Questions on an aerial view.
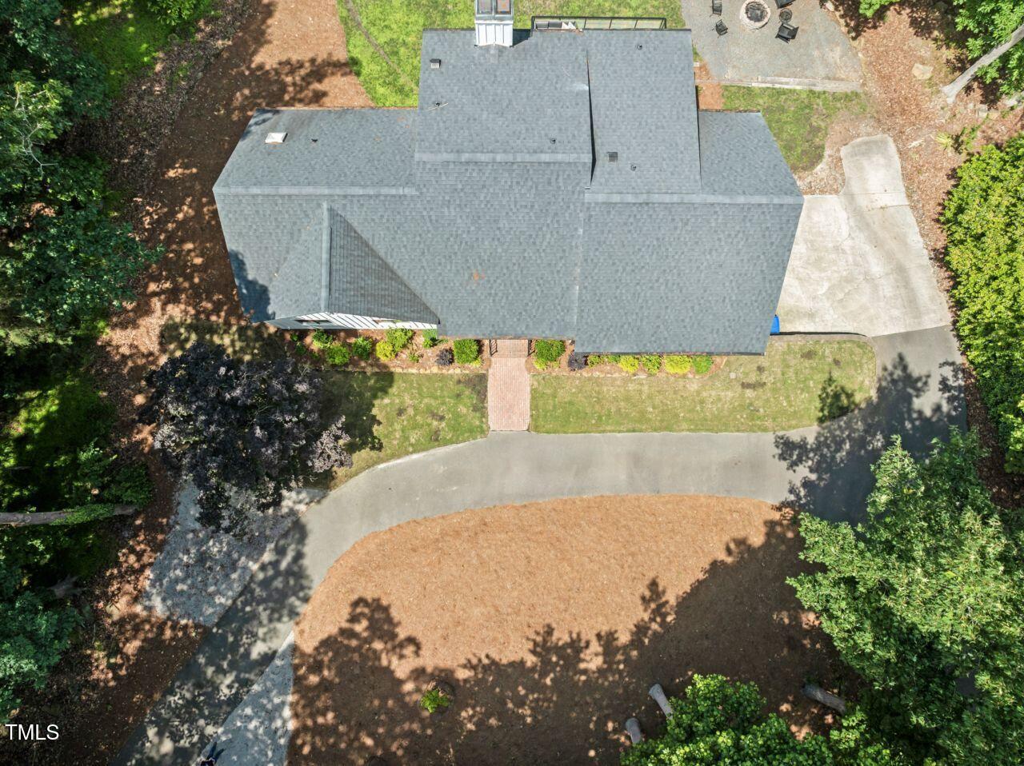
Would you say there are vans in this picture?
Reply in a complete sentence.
No, the photo shows no van.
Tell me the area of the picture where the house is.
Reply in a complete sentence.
Look in the top portion of the view to spot the house.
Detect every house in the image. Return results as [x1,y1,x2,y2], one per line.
[214,0,803,359]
